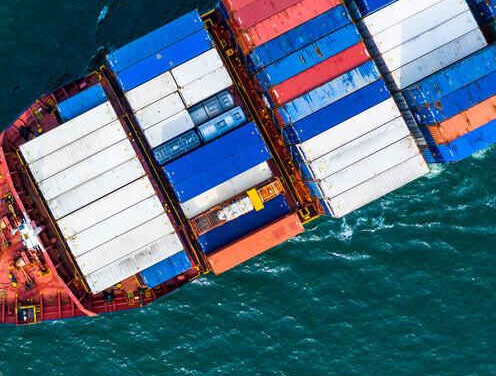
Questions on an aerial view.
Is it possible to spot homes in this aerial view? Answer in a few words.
No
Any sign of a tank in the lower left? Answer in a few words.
No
